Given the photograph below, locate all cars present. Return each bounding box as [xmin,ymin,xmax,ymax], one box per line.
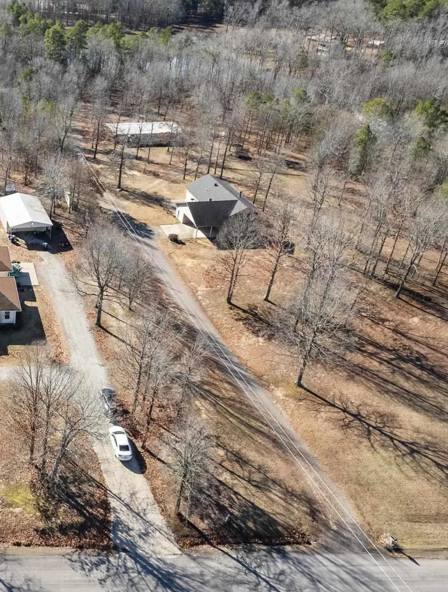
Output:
[110,426,132,457]
[101,388,120,415]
